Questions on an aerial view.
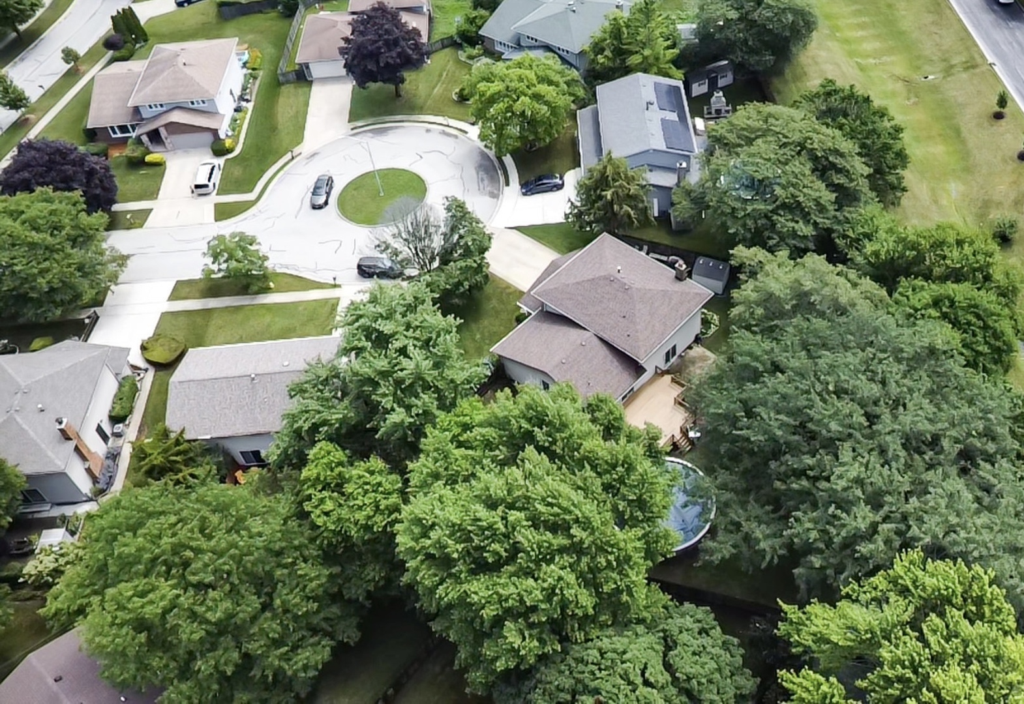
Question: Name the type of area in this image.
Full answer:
What you see here is a residential area.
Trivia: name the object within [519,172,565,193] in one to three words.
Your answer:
car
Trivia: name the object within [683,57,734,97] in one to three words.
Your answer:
shed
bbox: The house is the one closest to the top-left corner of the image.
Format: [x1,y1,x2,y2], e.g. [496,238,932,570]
[81,38,247,163]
